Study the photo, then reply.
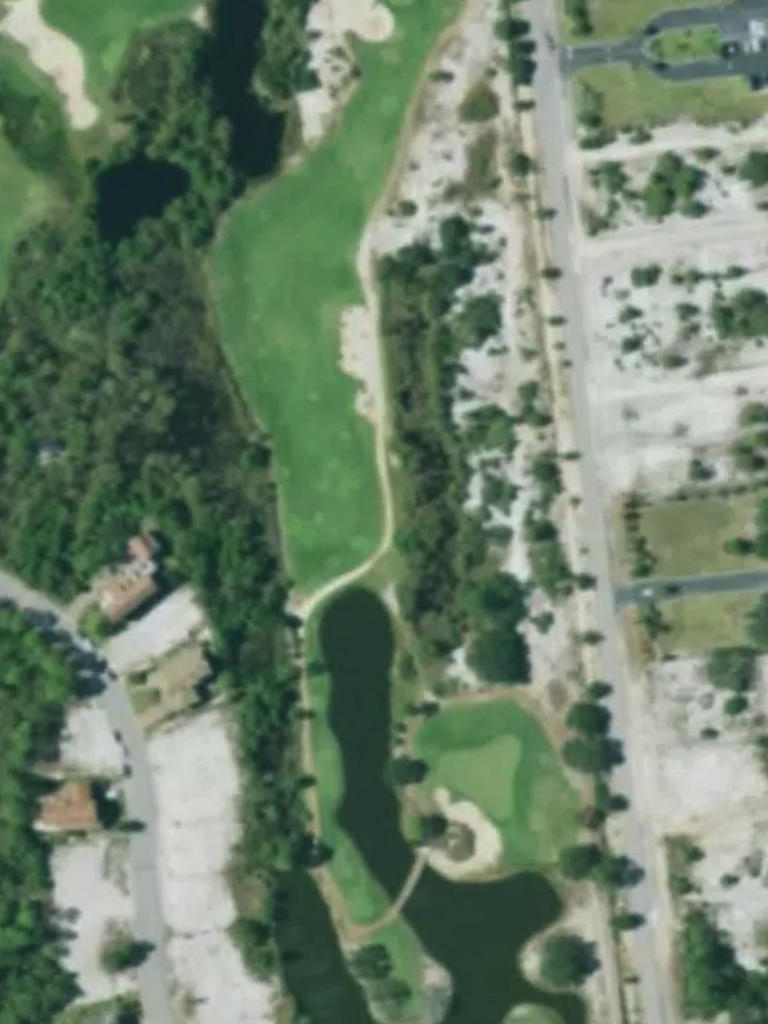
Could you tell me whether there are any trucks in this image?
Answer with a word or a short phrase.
No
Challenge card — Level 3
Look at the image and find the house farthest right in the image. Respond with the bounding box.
[149,649,213,715]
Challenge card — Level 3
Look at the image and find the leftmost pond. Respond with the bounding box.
[96,159,189,242]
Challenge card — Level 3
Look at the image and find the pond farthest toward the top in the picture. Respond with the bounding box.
[206,0,284,193]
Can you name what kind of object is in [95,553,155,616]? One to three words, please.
house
